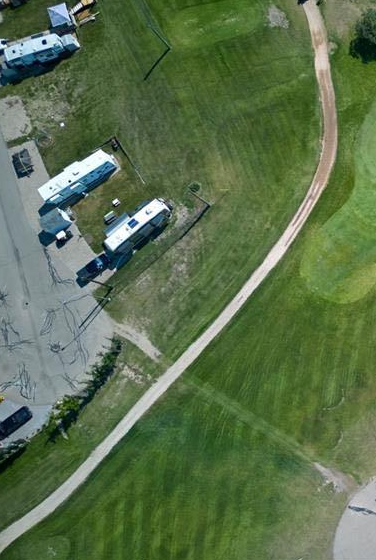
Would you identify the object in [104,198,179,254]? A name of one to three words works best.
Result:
trailer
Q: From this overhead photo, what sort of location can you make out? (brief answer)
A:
golf course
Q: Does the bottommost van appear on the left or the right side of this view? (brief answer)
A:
left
